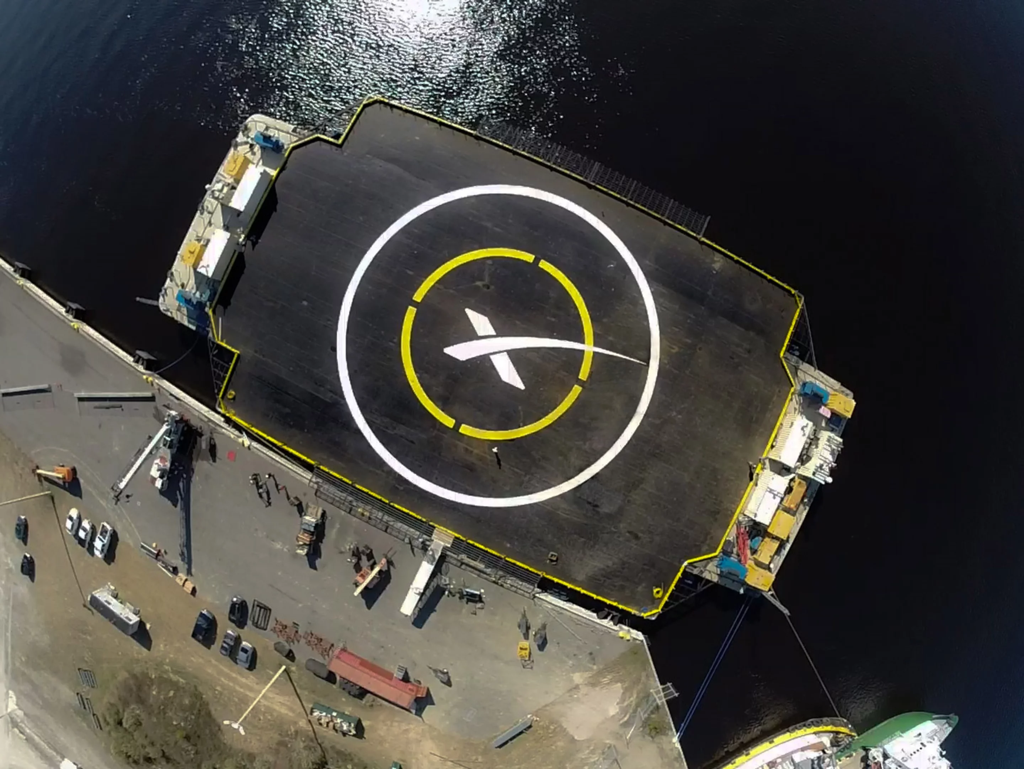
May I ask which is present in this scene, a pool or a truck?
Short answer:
truck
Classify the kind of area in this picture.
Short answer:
port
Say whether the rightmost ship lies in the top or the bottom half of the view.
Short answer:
bottom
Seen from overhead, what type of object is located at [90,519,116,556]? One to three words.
truck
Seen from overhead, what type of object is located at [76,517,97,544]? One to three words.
car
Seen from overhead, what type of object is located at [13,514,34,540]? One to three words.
car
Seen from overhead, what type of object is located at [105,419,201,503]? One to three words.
truck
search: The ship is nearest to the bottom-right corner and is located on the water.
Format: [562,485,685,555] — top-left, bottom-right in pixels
[821,711,960,769]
